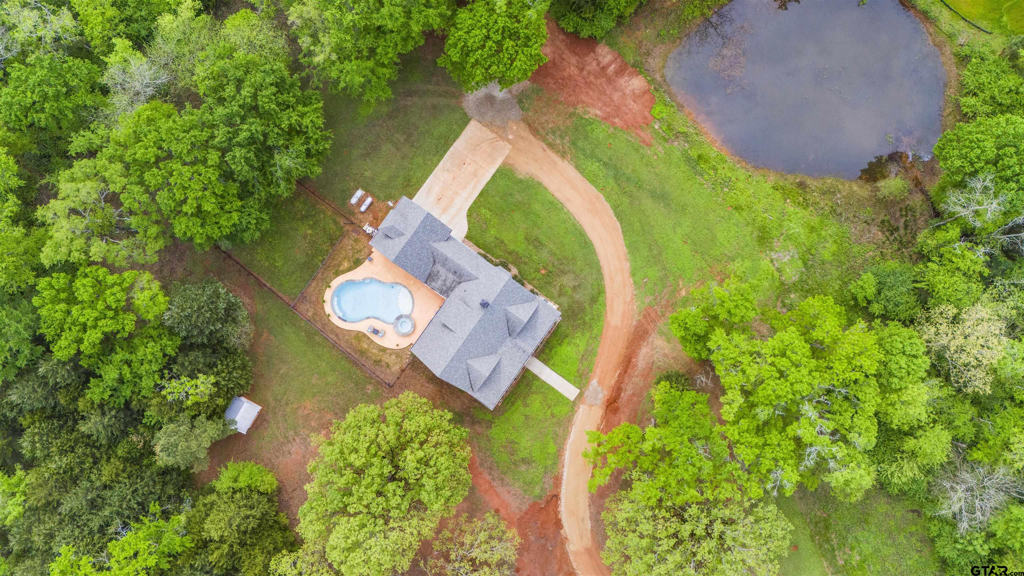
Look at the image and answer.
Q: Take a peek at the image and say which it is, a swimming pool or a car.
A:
swimming pool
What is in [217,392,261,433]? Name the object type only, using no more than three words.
shed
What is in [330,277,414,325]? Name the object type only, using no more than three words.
swimming pool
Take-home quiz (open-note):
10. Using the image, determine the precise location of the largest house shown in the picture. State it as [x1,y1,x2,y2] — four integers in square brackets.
[368,195,563,410]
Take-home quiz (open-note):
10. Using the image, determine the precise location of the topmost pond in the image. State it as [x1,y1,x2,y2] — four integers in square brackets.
[669,0,940,179]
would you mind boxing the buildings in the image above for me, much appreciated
[217,392,261,433]
[368,195,563,410]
